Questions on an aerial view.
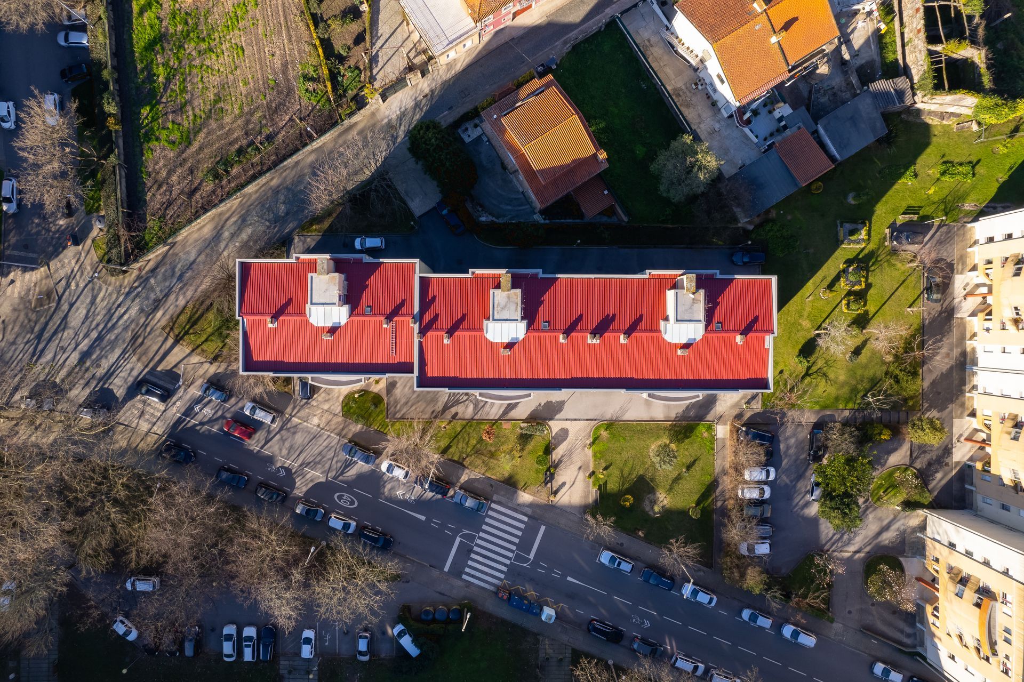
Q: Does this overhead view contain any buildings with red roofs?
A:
Yes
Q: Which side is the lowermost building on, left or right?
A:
right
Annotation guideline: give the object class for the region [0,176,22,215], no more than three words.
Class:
car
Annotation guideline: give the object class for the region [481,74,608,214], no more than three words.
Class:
house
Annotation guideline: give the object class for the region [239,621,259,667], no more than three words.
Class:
vehicle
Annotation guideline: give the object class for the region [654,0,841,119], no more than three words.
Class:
house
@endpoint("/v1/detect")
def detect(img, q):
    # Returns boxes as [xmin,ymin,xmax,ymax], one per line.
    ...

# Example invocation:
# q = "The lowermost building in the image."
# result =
[913,510,1024,682]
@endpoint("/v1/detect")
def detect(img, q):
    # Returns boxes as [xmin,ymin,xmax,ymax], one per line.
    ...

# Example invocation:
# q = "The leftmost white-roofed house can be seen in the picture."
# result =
[397,0,482,66]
